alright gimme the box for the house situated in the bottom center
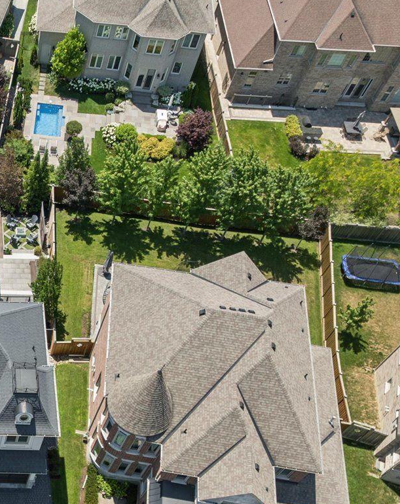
[84,251,351,504]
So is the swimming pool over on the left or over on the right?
left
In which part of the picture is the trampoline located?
right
